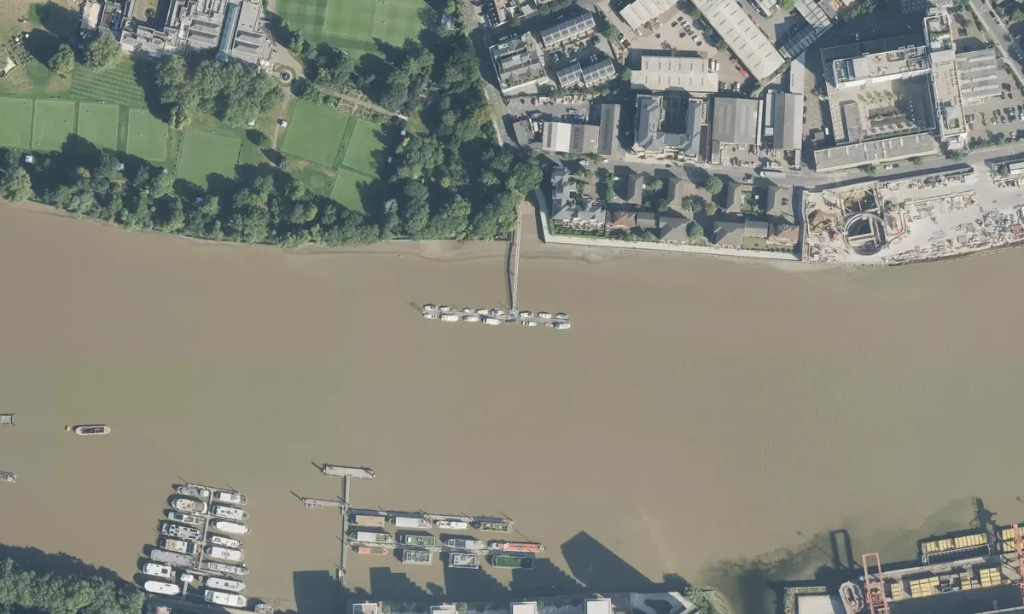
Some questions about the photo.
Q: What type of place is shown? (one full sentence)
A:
This image shows a port.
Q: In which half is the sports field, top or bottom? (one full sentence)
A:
The sports field sits in the top half of the picture.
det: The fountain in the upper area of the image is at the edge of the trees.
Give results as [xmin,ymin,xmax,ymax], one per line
[276,65,296,86]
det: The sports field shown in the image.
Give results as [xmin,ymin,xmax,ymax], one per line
[276,0,429,66]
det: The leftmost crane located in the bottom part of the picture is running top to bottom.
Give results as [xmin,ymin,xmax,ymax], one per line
[859,553,885,614]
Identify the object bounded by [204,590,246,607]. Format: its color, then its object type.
white boat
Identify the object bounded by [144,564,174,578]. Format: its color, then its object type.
white boat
